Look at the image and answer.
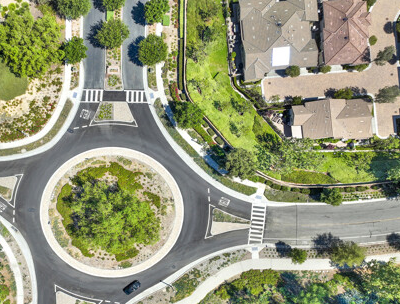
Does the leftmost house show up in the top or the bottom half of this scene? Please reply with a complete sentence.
Seen from above, the leftmost house lies in the top half of the view.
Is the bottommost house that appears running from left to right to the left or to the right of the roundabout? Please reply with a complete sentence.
Compared with the roundabout, the bottommost house that appears running from left to right is located further to the right.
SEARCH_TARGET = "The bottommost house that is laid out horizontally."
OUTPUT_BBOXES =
[290,99,373,139]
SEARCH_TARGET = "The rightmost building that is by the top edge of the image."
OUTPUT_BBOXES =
[319,0,371,66]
